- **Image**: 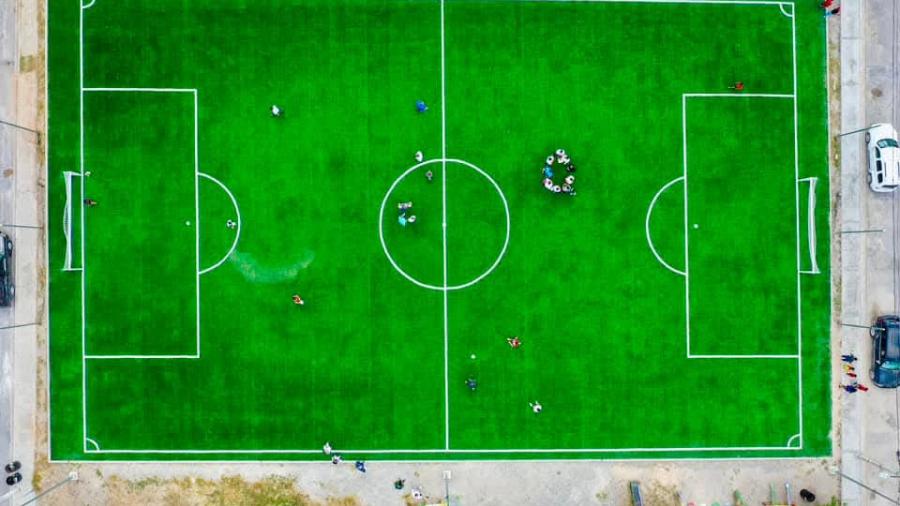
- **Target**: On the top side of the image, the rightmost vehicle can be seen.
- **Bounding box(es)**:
[866,125,900,194]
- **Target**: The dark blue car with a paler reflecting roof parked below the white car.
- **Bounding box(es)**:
[867,314,900,387]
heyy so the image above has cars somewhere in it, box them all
[867,314,900,387]
[866,125,900,194]
[0,231,13,307]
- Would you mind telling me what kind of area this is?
sports ground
